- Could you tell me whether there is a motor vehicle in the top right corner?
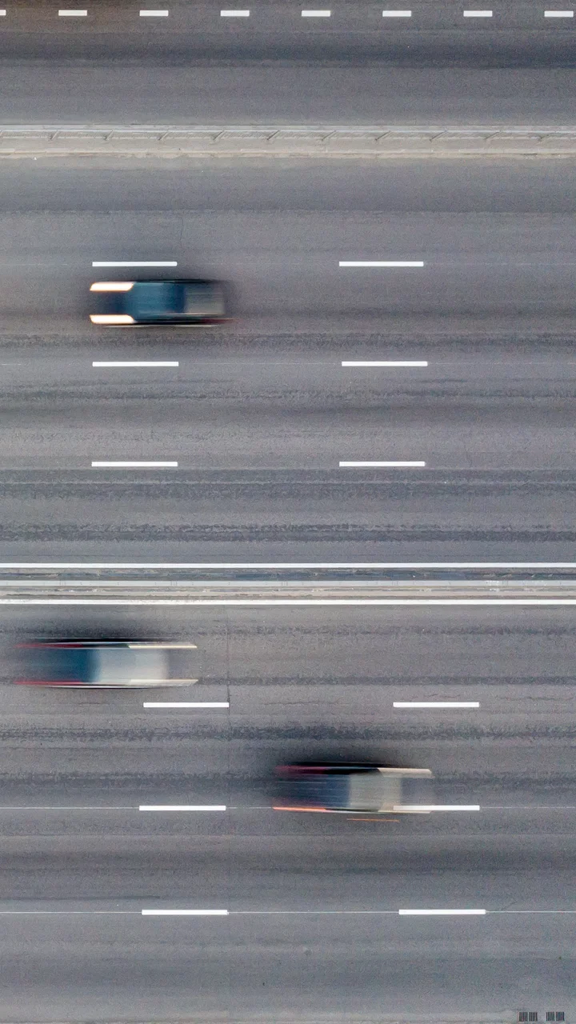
No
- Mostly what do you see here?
paved ground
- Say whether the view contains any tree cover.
No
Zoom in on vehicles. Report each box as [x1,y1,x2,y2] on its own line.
[93,272,225,328]
[36,636,179,693]
[278,759,415,817]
